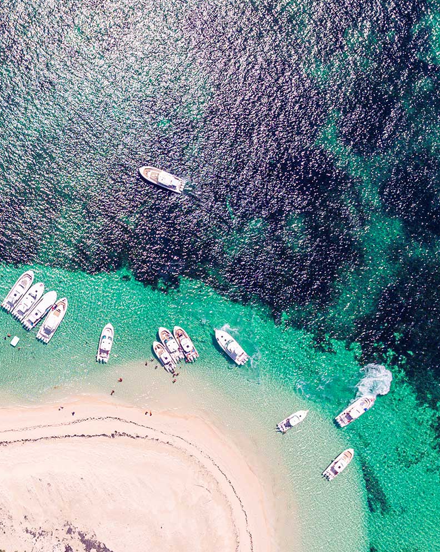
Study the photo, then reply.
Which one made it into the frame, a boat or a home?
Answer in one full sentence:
Visible in the photo is a boat.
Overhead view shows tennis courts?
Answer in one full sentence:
No, there isn't any tennis court down there.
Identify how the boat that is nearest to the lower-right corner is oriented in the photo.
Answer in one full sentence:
From this overhead view, the boat that is nearest to the lower-right corner appears to run at an angle.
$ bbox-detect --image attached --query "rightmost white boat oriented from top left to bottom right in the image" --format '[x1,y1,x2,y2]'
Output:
[214,328,249,367]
